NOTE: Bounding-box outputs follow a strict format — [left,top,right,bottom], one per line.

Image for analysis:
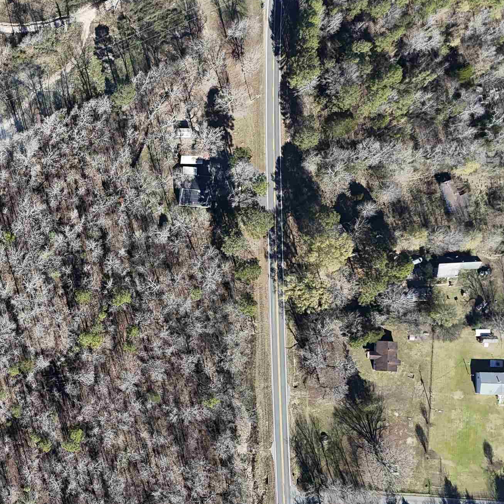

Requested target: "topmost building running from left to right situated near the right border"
[433,261,483,278]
